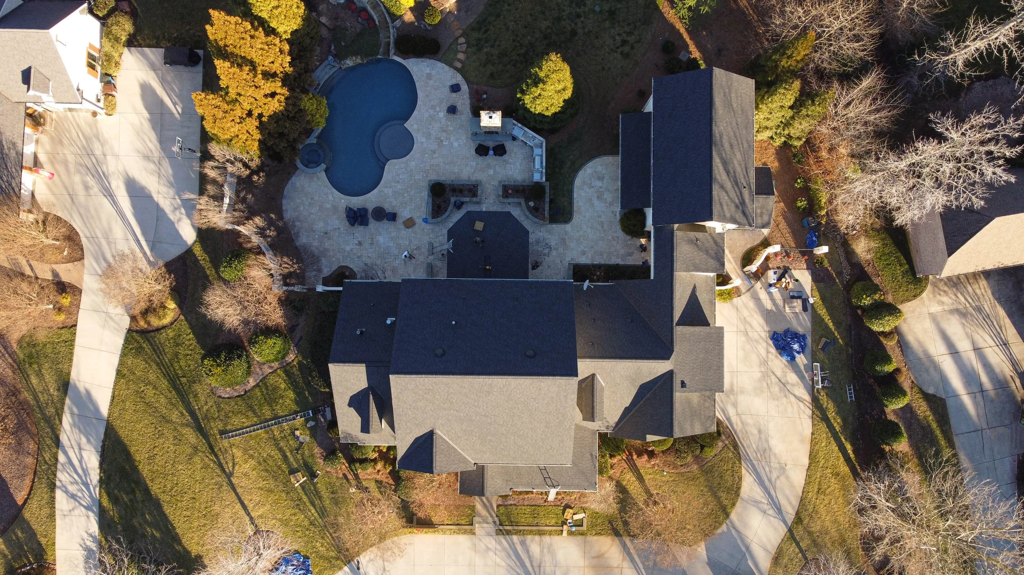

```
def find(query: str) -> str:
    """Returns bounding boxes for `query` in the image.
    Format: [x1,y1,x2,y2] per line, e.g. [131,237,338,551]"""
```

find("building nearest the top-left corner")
[0,1,104,213]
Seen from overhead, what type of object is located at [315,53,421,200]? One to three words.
swimming pool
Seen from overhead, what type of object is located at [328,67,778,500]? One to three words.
house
